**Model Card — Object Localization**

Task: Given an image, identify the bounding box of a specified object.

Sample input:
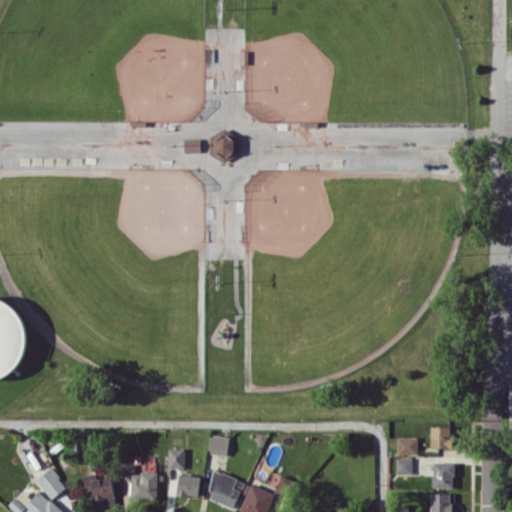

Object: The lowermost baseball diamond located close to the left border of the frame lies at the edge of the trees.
[0,170,204,391]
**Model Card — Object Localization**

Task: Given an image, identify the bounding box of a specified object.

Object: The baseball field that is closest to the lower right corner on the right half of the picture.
[246,164,466,392]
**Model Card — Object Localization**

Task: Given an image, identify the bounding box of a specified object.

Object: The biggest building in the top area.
[210,131,238,162]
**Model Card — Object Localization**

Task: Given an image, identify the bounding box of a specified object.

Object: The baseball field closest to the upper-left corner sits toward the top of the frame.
[0,0,204,122]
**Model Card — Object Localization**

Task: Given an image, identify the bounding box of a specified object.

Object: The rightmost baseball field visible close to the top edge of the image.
[246,0,469,127]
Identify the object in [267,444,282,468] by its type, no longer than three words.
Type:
swimming pool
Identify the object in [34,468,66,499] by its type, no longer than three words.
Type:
house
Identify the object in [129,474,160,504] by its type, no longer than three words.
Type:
house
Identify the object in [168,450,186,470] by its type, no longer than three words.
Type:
building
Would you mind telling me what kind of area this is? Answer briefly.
sports ground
